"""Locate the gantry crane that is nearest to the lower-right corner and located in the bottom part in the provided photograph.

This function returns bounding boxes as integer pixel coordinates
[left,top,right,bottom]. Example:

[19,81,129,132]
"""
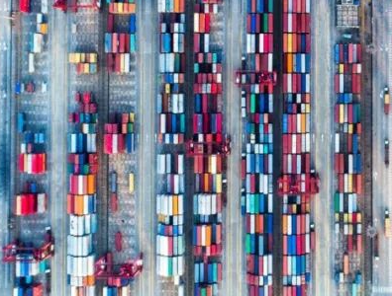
[277,169,321,191]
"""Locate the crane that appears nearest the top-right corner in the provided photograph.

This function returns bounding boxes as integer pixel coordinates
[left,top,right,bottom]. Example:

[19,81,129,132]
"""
[235,70,279,90]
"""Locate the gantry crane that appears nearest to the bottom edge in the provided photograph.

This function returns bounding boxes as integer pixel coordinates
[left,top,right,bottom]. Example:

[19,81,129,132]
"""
[96,254,145,279]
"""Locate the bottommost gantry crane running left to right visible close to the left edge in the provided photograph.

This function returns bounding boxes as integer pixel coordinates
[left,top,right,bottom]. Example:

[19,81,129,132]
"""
[4,236,57,260]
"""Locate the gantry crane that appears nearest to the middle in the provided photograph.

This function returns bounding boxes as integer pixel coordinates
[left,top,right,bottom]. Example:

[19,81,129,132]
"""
[187,134,234,155]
